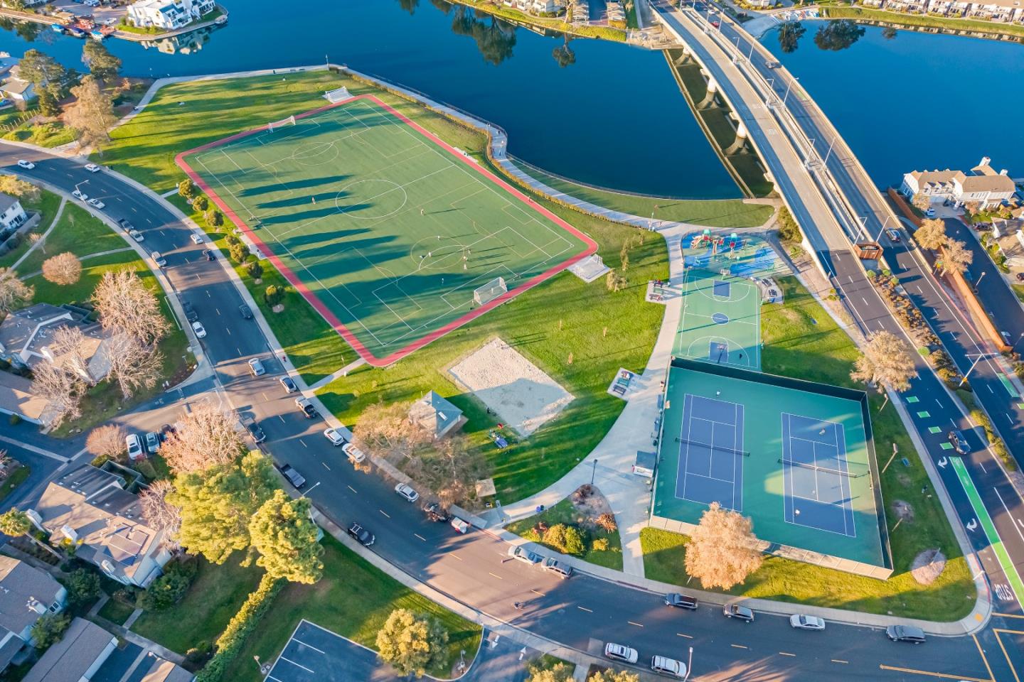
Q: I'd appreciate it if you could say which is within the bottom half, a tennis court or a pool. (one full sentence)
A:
Visible within the bottom half is a tennis court.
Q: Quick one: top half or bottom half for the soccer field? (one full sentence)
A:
The soccer field sits in the top half of the picture.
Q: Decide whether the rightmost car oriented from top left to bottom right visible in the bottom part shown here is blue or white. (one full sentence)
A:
In this view, the rightmost car oriented from top left to bottom right visible in the bottom part is blue.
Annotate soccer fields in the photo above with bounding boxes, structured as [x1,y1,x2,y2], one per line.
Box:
[175,94,597,368]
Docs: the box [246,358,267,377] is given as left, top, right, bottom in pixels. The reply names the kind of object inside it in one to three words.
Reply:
car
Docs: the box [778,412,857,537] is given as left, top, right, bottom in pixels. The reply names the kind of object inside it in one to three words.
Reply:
tennis court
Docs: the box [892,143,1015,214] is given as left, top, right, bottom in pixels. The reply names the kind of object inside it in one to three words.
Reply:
house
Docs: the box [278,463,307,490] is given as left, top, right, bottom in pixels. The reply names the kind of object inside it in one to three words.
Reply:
vehicle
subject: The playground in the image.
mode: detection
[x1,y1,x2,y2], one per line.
[681,232,794,279]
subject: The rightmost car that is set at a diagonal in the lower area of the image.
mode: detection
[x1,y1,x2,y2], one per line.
[945,430,972,455]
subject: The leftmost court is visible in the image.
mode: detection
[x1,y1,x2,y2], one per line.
[443,336,575,439]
